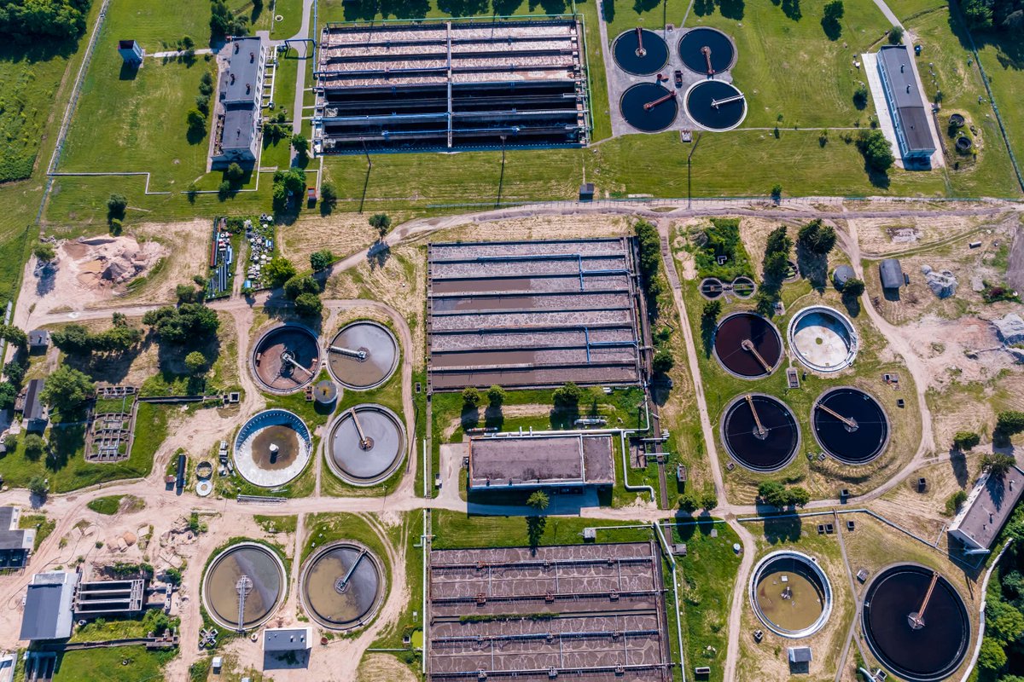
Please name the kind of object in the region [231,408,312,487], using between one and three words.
storage tank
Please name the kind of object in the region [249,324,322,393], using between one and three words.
storage tank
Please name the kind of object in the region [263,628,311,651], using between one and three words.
shed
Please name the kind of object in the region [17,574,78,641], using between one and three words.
building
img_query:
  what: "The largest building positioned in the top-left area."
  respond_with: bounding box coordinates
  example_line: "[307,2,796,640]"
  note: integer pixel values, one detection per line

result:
[212,34,266,164]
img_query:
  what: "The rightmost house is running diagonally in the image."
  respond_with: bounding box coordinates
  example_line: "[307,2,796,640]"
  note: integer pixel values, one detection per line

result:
[948,465,1024,555]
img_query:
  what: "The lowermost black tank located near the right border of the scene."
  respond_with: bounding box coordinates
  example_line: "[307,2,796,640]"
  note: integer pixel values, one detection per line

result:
[861,565,974,682]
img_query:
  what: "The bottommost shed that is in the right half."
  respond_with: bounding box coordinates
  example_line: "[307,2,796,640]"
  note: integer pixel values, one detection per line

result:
[788,647,812,662]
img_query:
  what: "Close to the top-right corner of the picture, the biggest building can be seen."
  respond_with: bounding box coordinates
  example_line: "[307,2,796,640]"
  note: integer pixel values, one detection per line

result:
[875,41,935,158]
